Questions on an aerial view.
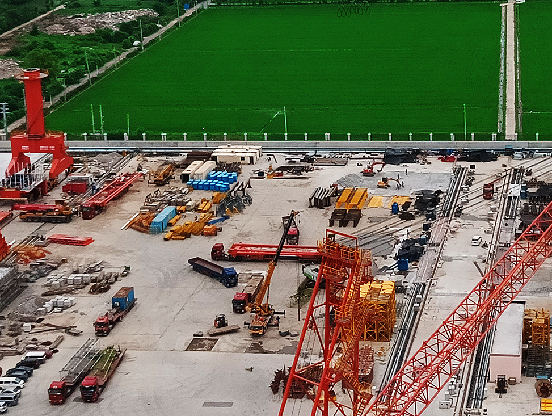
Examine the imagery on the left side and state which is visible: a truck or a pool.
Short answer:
truck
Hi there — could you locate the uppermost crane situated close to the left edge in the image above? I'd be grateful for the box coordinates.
[0,70,78,184]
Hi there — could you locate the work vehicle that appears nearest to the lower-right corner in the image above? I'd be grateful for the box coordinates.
[495,374,509,394]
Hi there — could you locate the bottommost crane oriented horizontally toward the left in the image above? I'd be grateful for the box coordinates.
[12,205,71,222]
